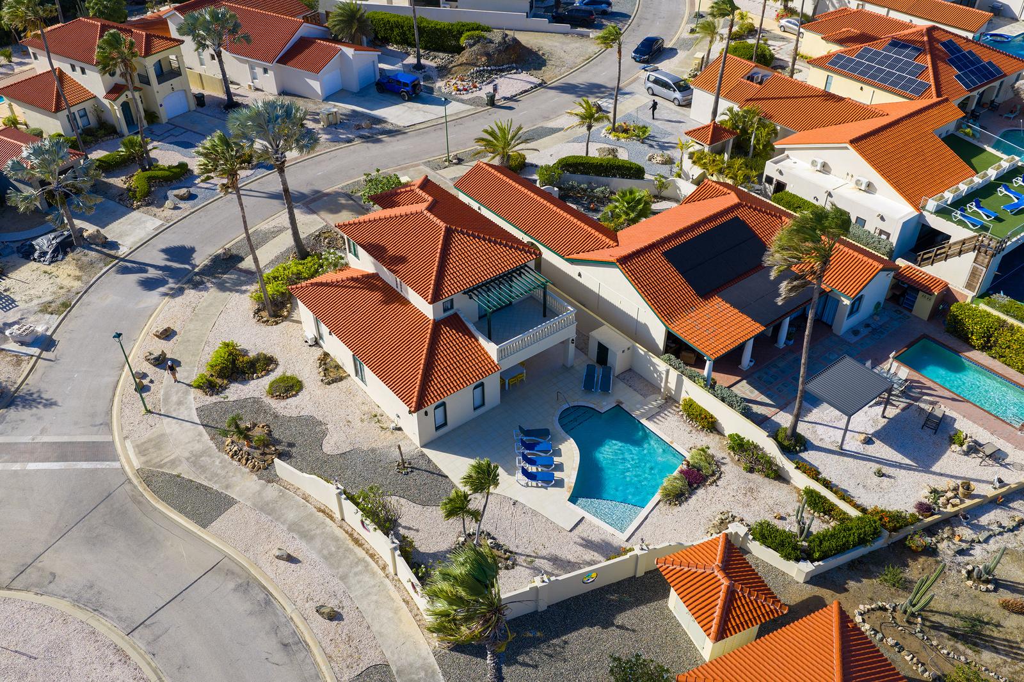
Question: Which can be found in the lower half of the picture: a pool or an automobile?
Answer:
pool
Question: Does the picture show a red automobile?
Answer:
No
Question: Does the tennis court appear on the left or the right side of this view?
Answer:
right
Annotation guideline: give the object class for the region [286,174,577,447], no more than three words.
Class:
house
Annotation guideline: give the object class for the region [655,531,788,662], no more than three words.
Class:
shed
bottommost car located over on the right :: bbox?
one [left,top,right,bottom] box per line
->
[640,64,695,106]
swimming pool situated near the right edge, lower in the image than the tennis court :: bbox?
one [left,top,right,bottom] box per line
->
[888,330,1024,433]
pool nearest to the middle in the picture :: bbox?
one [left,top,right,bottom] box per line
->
[552,391,693,541]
